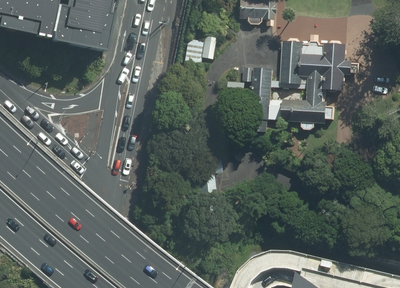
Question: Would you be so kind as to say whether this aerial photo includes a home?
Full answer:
Yes, there is a home in the image.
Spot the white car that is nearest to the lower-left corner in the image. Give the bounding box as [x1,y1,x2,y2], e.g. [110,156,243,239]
[70,160,86,174]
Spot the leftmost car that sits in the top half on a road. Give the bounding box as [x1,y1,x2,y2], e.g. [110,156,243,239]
[2,99,18,114]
